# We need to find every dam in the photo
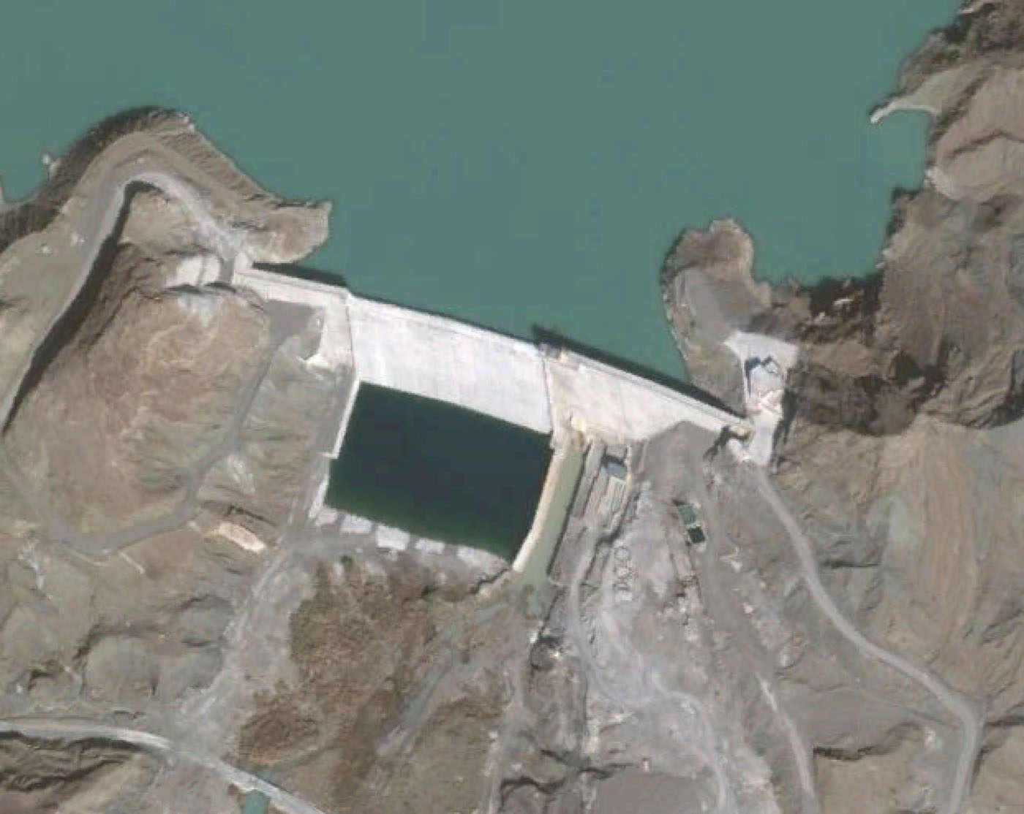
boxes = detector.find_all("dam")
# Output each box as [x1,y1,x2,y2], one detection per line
[232,252,749,454]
